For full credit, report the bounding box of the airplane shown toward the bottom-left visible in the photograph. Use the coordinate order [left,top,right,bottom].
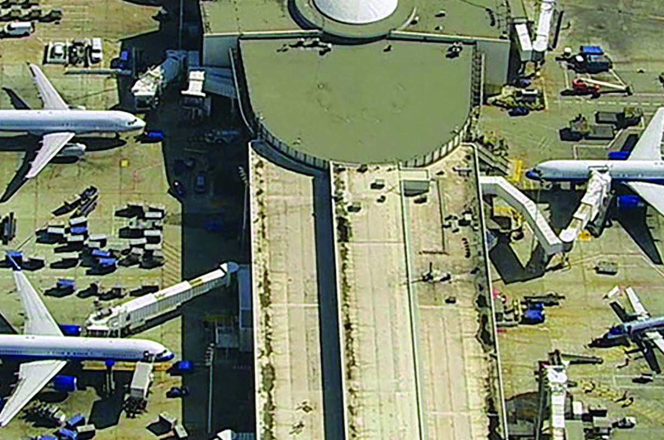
[0,259,174,421]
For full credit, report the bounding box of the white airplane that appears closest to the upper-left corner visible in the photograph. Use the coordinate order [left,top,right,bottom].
[0,62,145,178]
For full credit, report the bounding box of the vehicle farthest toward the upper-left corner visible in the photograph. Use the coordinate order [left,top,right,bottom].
[6,23,33,37]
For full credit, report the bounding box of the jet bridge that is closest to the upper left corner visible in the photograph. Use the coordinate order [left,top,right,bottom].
[130,47,200,111]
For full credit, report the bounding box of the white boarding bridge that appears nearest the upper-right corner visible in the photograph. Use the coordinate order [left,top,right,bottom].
[510,0,561,81]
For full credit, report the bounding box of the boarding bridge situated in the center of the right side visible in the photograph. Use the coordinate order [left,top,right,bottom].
[480,170,611,274]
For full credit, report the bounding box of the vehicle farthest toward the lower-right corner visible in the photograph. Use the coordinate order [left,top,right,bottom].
[614,417,644,434]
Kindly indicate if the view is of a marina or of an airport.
airport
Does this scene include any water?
No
